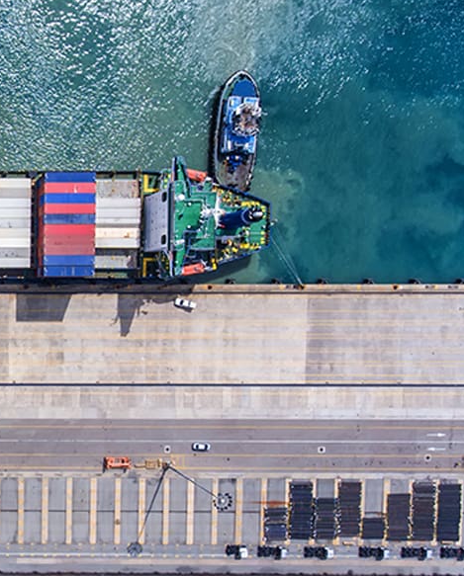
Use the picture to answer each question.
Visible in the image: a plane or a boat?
boat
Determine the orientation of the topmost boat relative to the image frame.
vertically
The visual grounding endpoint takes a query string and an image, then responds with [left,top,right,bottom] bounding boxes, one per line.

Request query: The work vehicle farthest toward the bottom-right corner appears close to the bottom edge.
[436,546,464,559]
